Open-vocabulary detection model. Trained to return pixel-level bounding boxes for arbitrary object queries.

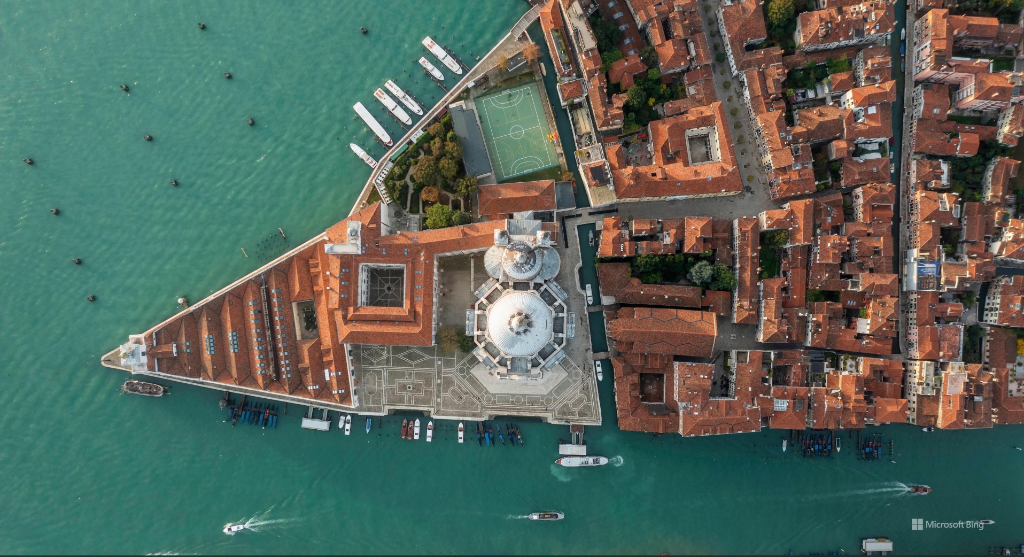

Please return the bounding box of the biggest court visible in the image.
[476,82,560,182]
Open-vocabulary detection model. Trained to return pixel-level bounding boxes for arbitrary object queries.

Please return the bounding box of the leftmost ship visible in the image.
[120,379,167,396]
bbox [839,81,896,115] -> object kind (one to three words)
house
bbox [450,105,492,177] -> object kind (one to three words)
building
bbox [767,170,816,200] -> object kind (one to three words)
house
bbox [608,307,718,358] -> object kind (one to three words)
building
